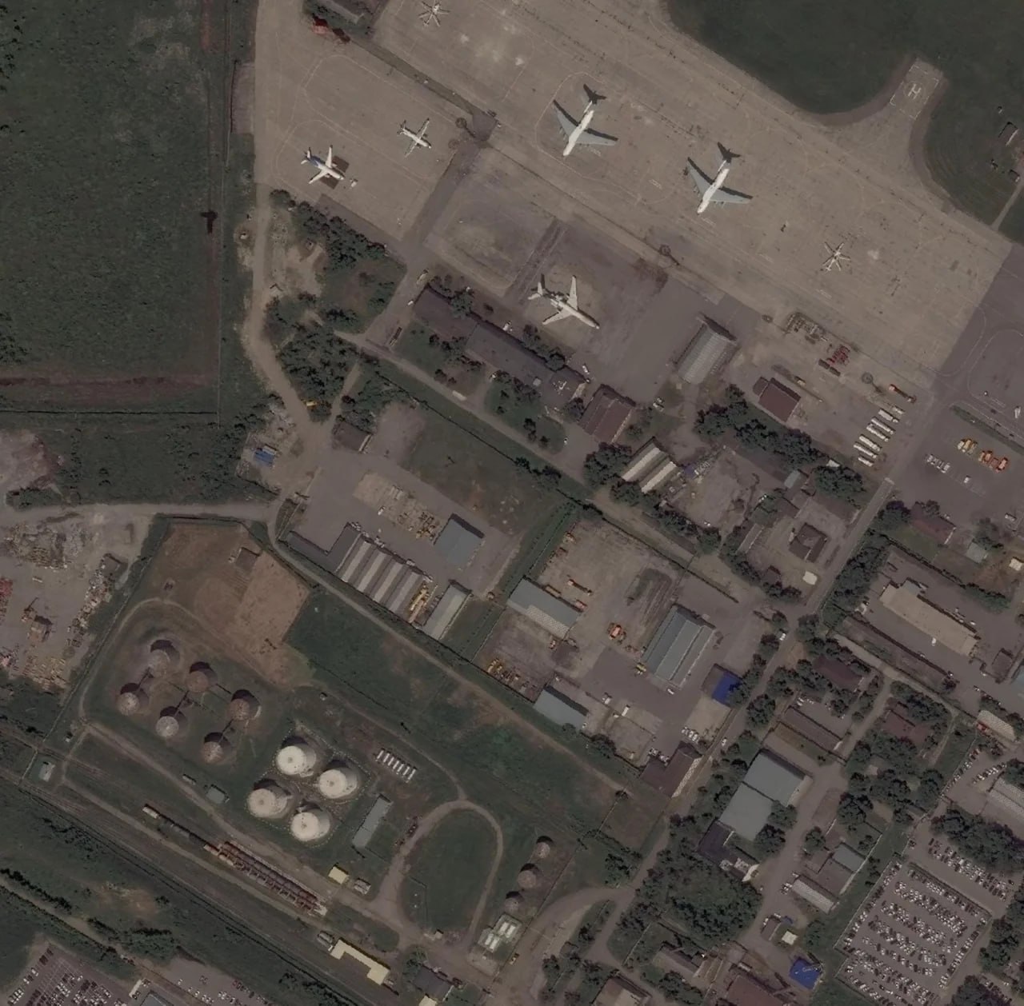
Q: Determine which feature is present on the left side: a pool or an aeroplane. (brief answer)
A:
aeroplane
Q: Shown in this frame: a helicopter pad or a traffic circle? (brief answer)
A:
helicopter pad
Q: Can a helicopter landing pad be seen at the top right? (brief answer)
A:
Yes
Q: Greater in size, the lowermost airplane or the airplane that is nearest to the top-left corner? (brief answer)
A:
the lowermost airplane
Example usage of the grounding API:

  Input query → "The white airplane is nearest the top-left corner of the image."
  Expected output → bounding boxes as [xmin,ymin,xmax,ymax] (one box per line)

[298,144,342,180]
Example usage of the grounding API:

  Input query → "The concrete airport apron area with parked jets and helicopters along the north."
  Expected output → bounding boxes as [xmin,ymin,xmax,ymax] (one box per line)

[231,0,1024,520]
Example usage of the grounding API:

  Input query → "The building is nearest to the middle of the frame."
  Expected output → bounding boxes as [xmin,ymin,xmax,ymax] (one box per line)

[432,518,489,567]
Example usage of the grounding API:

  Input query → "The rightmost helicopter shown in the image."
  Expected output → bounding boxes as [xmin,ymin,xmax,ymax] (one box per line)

[821,242,850,273]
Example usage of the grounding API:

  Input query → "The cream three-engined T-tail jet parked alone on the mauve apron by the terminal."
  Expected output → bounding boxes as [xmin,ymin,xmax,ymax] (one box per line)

[526,276,600,327]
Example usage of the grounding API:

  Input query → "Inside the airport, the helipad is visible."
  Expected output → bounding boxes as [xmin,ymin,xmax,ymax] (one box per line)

[890,61,941,120]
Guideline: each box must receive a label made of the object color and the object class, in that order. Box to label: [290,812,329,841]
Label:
white storage tank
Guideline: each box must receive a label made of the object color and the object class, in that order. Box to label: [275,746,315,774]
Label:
white storage tank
